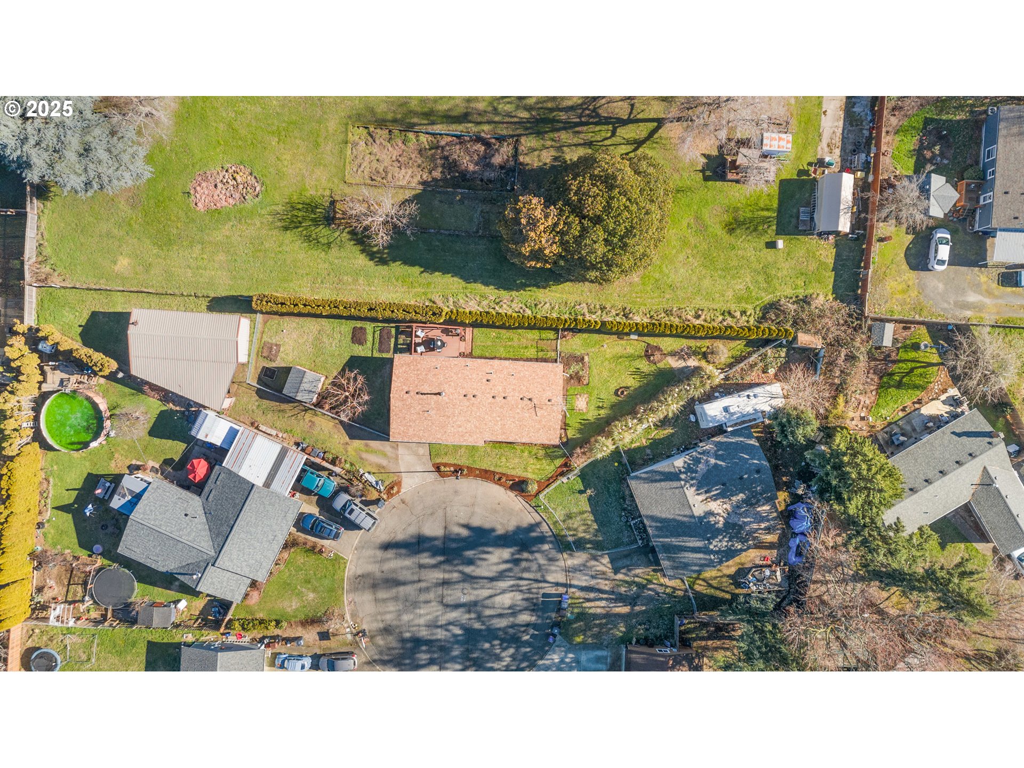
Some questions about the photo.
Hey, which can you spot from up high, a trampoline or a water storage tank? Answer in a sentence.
Looking from above, you can make out a trampoline.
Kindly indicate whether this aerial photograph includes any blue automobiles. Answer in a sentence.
Yes, this view includes a blue automobile.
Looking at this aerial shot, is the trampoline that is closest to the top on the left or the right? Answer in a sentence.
The trampoline that is closest to the top sits on the left side.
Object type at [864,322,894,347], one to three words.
shed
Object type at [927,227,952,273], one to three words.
car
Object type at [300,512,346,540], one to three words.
car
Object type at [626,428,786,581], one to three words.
house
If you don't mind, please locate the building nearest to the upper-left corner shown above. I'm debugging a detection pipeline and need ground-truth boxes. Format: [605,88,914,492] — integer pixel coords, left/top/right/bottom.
[127,308,253,411]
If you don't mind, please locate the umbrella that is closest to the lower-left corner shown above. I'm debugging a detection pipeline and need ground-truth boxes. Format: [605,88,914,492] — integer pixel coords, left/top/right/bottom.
[187,458,211,482]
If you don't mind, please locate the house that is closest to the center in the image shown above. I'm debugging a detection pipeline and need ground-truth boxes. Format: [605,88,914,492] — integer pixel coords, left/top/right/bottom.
[390,354,569,446]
